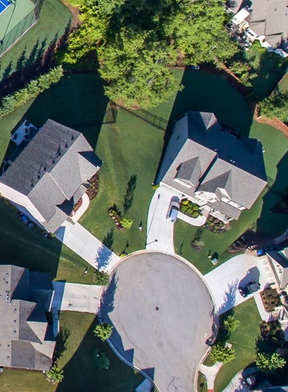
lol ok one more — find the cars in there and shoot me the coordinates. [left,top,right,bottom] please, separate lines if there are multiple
[239,369,269,392]
[241,280,264,299]
[167,197,183,223]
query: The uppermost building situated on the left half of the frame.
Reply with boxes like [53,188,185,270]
[0,118,97,239]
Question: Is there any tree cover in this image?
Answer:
Yes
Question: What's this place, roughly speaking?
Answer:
residential area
